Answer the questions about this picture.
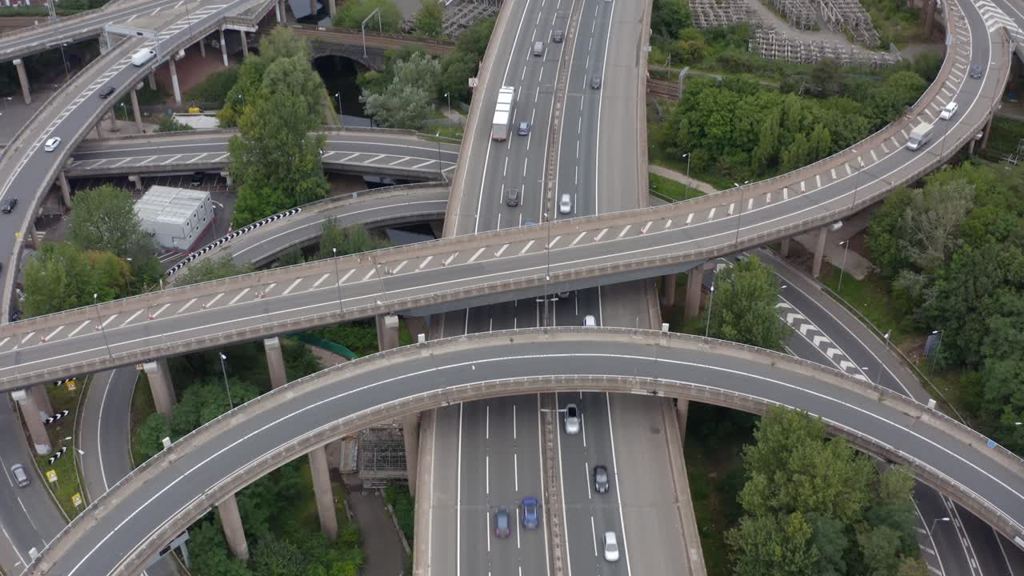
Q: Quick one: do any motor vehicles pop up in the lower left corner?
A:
Yes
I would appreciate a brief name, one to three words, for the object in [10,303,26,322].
car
